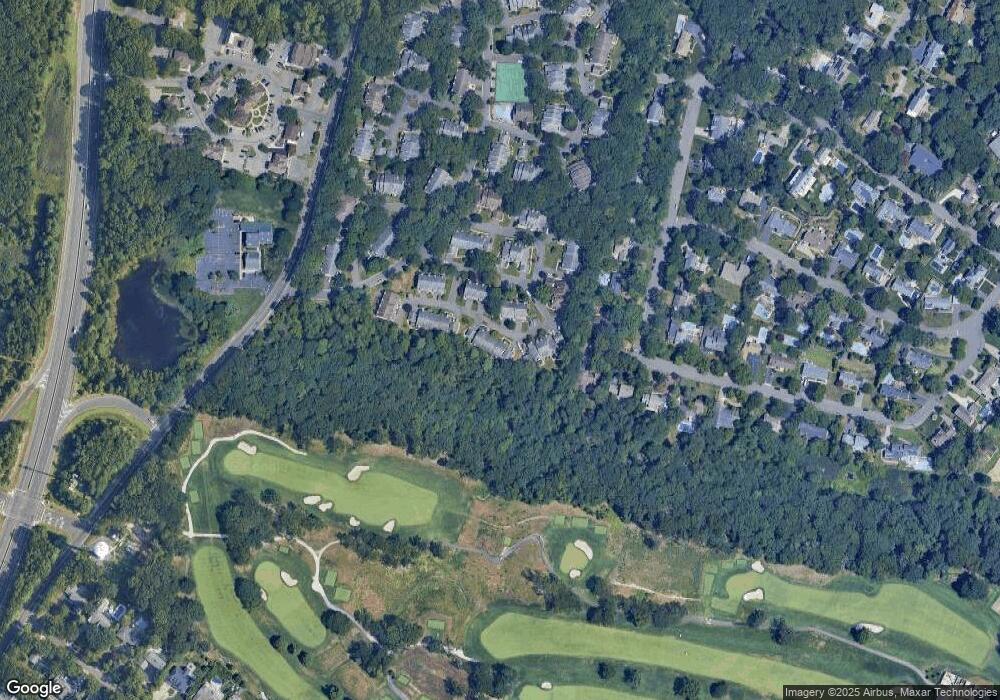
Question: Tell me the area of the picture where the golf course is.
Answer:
bottom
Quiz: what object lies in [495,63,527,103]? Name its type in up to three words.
tennis court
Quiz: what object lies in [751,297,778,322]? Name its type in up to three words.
swimming pool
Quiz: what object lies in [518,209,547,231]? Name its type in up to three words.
house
